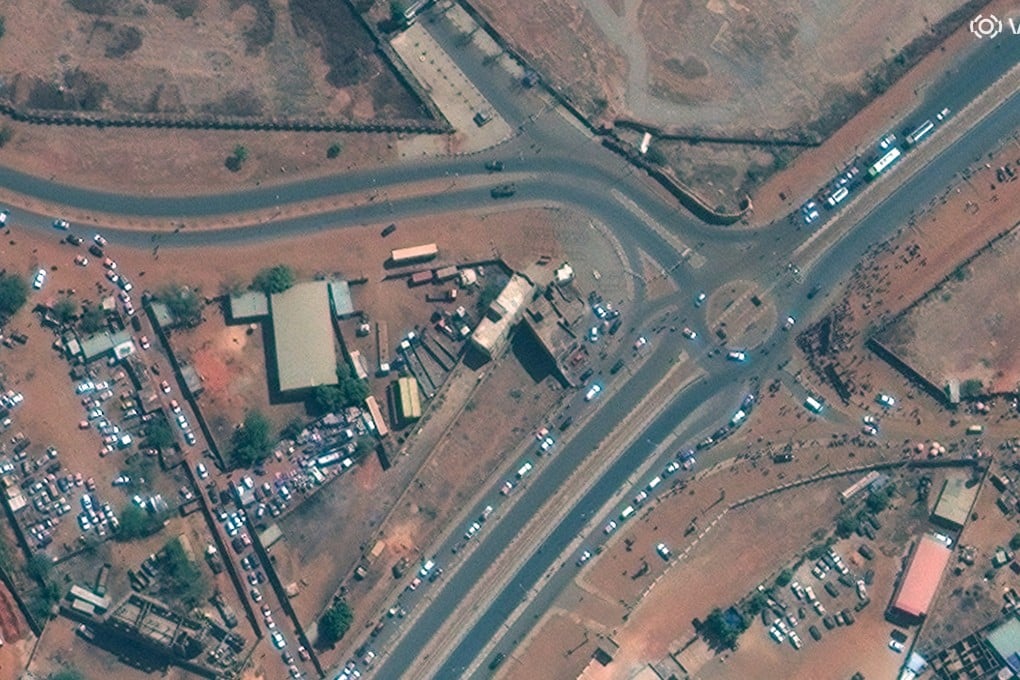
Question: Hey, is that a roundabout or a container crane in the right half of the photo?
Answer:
roundabout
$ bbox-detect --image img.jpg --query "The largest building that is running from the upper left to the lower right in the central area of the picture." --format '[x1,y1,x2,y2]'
[523,295,581,369]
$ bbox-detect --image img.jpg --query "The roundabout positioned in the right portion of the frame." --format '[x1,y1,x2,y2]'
[707,281,777,349]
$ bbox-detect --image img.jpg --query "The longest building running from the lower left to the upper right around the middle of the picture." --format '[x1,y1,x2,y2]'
[472,273,538,357]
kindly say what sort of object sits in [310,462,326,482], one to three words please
vehicle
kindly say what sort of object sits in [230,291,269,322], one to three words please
shed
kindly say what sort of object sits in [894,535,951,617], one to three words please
building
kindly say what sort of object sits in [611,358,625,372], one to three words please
vehicle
